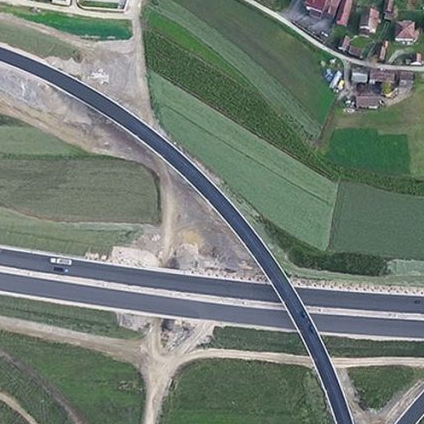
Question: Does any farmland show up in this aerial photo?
Yes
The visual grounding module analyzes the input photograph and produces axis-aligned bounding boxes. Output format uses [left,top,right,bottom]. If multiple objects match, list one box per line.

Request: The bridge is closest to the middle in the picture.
[110,107,355,424]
